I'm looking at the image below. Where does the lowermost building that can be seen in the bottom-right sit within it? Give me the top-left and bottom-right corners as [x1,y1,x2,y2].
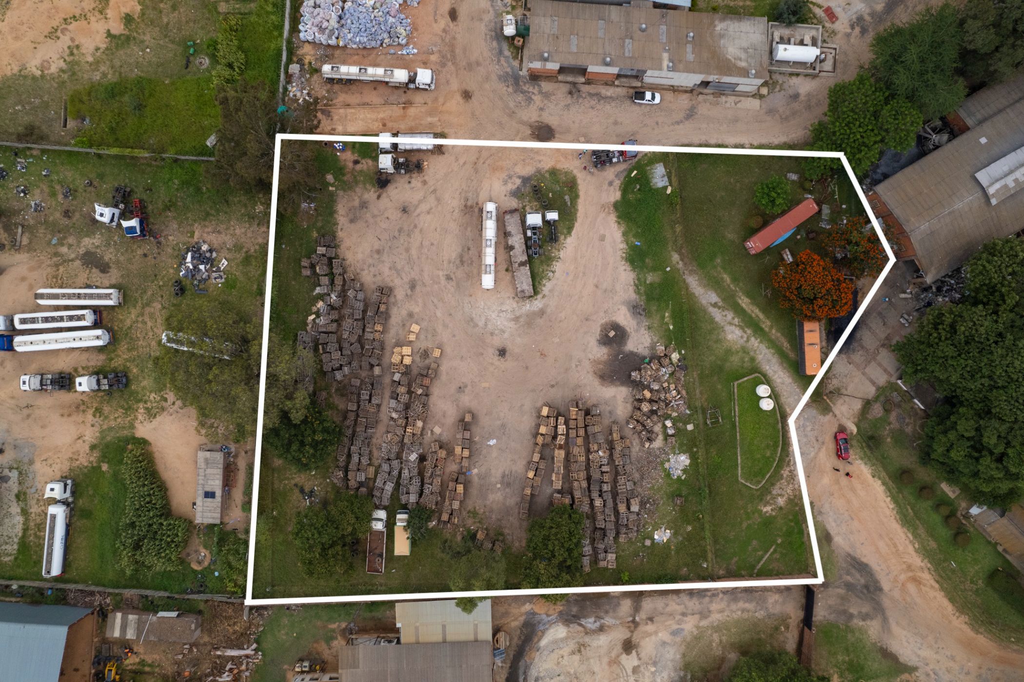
[969,504,1024,572]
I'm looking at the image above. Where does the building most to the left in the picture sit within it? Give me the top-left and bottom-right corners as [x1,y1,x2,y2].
[0,602,98,682]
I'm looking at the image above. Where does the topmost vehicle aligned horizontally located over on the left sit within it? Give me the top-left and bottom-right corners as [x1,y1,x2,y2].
[322,65,438,91]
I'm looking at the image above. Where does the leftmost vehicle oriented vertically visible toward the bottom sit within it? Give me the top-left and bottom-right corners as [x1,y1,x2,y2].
[43,477,79,577]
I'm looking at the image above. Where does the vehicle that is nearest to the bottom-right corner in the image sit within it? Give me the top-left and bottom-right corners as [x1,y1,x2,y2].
[833,433,849,460]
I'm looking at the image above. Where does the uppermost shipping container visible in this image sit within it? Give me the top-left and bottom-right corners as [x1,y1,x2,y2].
[744,200,815,253]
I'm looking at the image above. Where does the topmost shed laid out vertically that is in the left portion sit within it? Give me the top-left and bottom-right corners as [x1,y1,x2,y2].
[195,449,228,524]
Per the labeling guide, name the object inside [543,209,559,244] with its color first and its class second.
white vehicle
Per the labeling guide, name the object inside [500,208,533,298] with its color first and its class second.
gray trailer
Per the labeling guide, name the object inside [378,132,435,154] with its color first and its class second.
white truck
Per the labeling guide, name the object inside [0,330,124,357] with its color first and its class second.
white truck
